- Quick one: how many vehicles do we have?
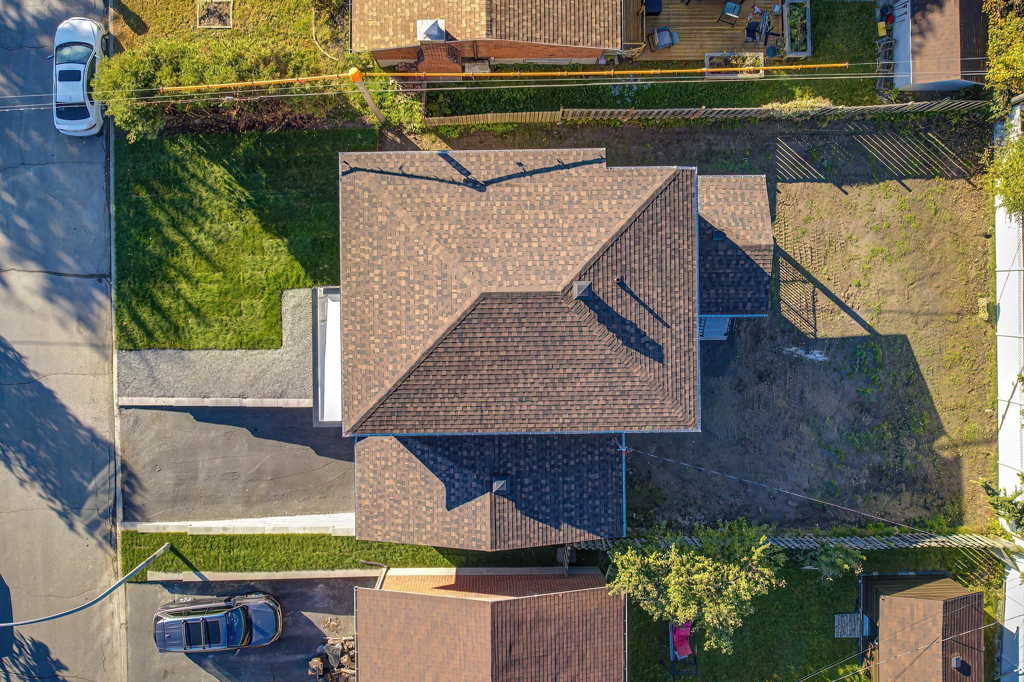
2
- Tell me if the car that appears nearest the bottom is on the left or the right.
left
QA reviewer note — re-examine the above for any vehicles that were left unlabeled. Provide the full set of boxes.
[155,593,287,657]
[44,18,106,138]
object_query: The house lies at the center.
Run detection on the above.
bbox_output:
[312,146,774,548]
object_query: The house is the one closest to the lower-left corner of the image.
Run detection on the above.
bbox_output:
[353,559,628,682]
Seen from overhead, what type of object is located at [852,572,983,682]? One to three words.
shed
